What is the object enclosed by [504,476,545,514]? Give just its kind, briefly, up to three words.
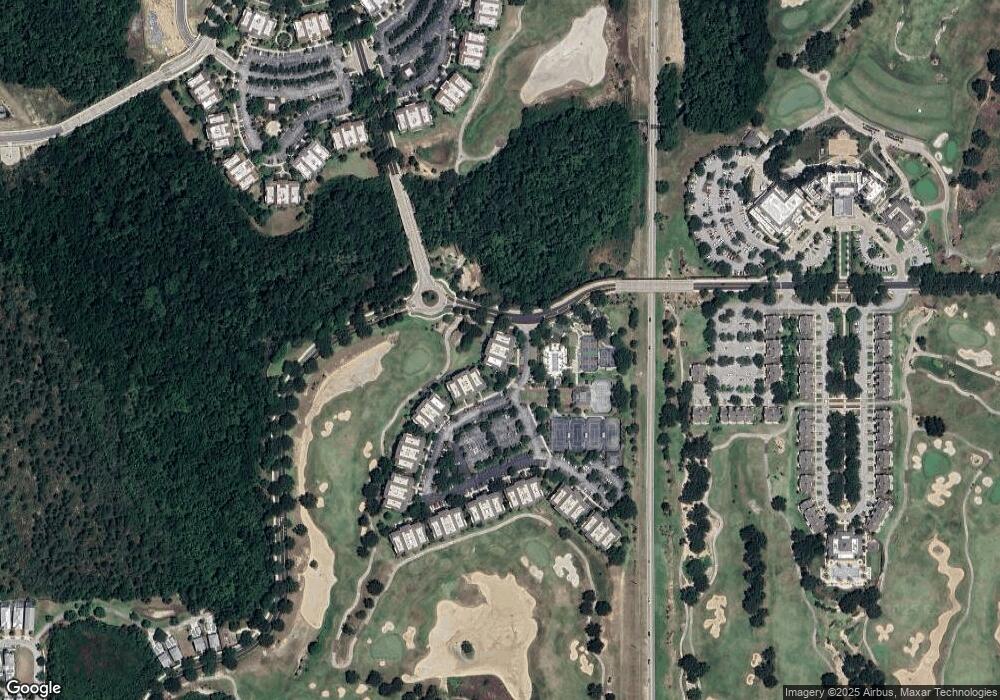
building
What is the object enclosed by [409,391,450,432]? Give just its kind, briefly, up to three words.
building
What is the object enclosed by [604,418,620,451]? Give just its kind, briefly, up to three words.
tennis court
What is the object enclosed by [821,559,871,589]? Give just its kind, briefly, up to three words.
swimming pool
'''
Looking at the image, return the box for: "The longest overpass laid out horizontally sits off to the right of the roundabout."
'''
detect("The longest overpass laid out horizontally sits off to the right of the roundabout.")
[558,279,787,315]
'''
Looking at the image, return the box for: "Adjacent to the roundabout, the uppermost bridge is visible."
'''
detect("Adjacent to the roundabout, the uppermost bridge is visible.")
[387,162,430,277]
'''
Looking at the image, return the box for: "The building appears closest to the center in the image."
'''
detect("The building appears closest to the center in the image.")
[479,329,517,370]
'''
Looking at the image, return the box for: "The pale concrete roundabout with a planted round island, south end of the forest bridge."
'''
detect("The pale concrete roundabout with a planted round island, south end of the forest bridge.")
[404,272,457,322]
